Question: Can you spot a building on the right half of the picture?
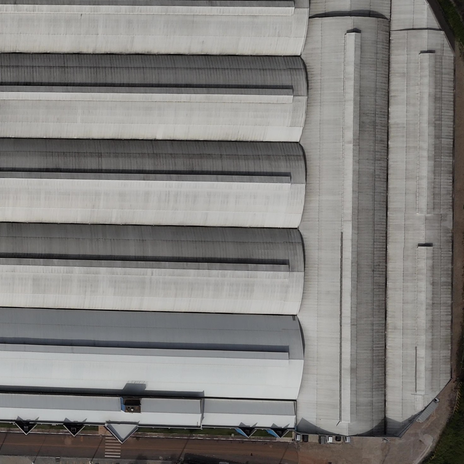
Yes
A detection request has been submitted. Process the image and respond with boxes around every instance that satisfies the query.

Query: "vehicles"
[325,434,332,446]
[343,436,350,445]
[333,436,342,443]
[318,434,326,446]
[294,432,301,444]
